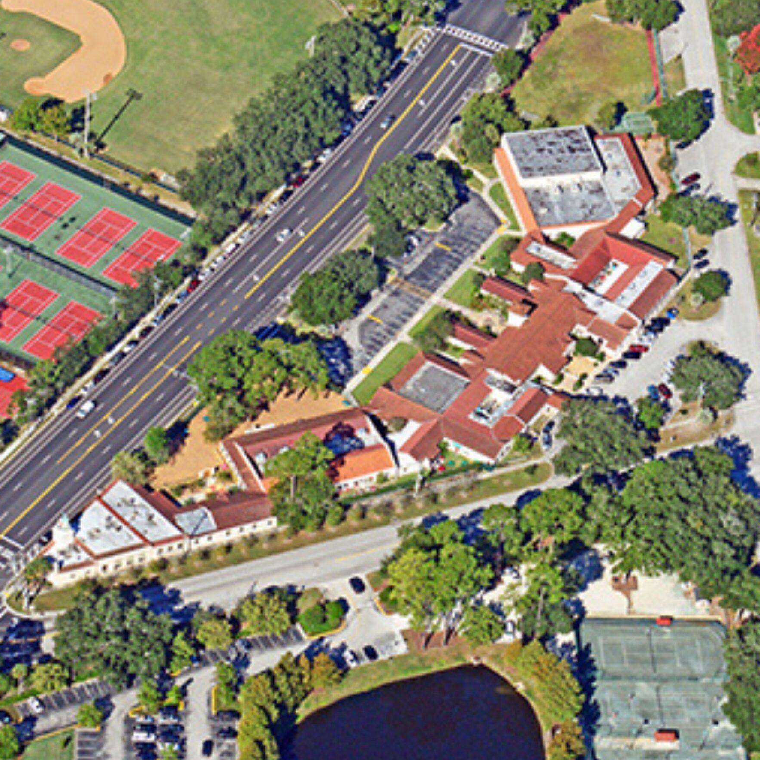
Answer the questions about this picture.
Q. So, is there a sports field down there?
Yes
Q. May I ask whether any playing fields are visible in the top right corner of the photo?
Yes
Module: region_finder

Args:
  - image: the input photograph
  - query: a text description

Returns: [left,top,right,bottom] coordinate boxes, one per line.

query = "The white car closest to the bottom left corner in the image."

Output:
[29,695,43,712]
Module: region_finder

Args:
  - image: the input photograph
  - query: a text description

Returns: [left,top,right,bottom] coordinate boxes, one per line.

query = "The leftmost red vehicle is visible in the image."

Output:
[187,280,200,293]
